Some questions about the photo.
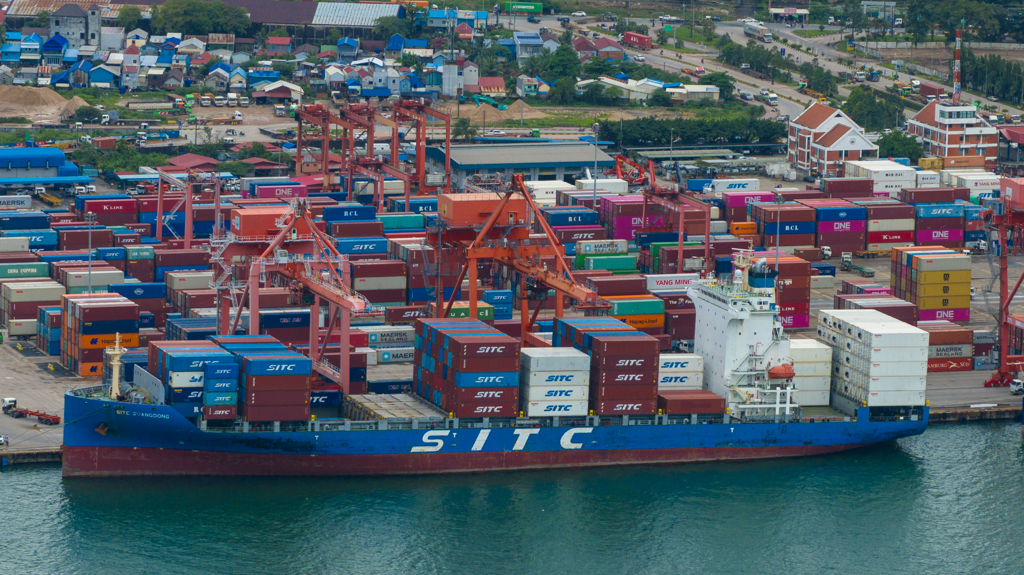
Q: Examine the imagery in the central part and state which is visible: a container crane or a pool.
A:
container crane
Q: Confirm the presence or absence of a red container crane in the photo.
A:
Yes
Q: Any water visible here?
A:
Yes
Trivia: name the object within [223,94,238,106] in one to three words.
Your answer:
vehicle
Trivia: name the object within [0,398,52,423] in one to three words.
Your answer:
truck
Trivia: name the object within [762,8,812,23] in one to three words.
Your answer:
house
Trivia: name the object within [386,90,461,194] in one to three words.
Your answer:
container crane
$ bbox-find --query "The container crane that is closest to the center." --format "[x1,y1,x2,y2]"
[418,164,609,348]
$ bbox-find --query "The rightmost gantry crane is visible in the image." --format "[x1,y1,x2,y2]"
[986,174,1024,386]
